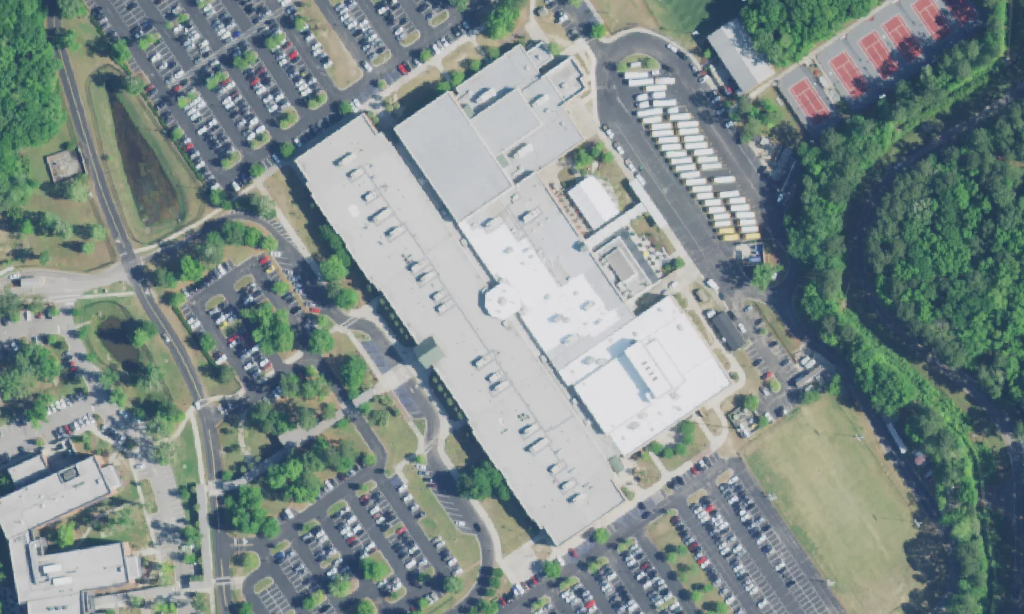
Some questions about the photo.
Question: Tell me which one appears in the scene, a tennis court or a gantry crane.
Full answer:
Of the two, only a tennis court appears.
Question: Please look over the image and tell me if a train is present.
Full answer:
No, no train is visible in the scene.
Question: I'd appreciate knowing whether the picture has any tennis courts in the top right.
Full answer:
Yes, a tennis court shows up in the top right.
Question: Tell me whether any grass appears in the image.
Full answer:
Yes, the picture does contain grass.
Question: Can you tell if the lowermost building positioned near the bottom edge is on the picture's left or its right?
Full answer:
The lowermost building positioned near the bottom edge sits on the left side.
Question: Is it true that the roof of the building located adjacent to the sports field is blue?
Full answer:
No, the roof of the building located adjacent to the sports field is actually white.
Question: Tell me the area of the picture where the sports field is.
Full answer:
The sports field is in the bottom right part of the image.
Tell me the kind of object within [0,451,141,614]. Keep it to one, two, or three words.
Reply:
building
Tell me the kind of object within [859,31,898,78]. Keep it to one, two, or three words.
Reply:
tennis court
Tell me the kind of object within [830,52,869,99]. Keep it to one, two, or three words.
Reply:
tennis court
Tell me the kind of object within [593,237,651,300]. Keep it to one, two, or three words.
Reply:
building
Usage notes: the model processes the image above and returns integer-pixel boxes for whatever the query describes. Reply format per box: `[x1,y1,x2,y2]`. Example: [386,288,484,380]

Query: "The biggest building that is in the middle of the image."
[296,42,730,546]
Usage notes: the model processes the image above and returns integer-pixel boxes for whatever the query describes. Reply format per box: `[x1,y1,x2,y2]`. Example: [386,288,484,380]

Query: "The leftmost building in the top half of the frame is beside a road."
[46,150,85,182]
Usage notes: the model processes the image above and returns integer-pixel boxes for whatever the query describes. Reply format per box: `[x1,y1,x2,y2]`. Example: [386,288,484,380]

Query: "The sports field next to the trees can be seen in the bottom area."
[733,394,926,614]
